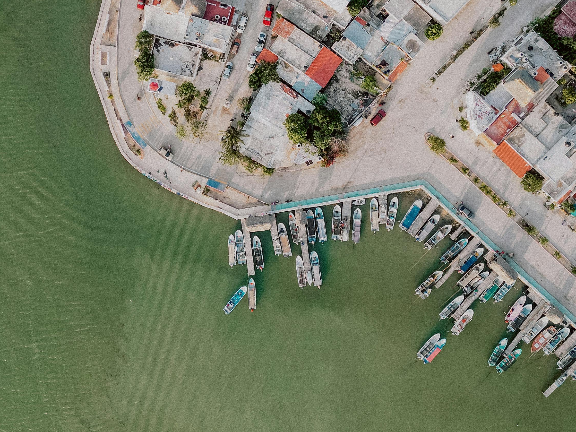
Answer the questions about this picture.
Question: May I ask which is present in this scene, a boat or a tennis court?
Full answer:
It is a boat that can be seen here.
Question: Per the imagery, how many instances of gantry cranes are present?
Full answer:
The picture shows no gantry cranes.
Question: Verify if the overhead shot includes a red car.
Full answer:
Yes, the frame does contain a red car.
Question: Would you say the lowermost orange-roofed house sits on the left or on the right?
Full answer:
The lowermost orange-roofed house sits on the right side.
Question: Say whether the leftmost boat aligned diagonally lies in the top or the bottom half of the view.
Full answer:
The leftmost boat aligned diagonally is in the bottom half of the image.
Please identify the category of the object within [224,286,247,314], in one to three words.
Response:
boat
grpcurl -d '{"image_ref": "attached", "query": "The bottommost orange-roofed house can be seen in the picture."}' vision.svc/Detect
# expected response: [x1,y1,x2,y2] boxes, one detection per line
[491,141,532,177]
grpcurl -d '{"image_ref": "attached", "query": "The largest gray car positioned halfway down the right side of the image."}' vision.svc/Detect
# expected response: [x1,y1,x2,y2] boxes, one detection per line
[456,203,474,220]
